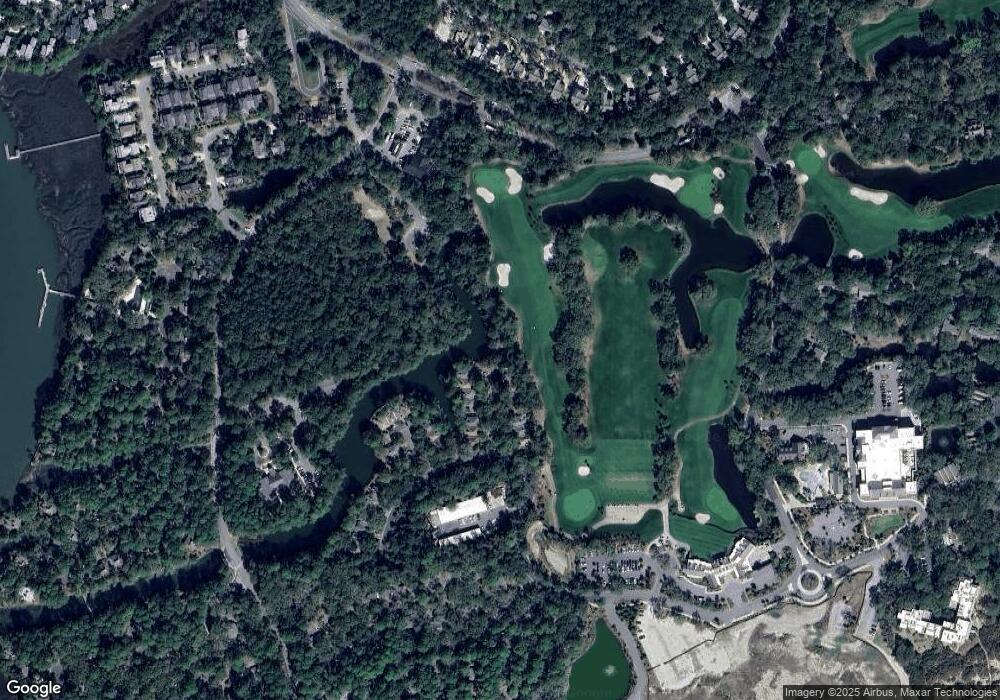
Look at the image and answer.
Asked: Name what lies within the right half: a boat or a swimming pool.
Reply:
swimming pool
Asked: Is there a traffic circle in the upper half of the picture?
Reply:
No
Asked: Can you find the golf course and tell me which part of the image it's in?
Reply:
right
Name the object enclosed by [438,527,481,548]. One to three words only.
building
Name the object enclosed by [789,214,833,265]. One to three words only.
pond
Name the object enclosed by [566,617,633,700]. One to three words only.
pond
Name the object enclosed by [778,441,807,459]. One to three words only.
house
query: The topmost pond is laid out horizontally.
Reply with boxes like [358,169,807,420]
[875,36,958,78]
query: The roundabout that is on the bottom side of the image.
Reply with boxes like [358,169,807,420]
[788,550,832,602]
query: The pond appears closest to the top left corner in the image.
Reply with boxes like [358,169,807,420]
[229,165,305,212]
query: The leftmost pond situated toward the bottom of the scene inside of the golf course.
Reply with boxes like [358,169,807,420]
[708,424,757,527]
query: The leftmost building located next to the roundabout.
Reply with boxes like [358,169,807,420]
[683,537,771,585]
